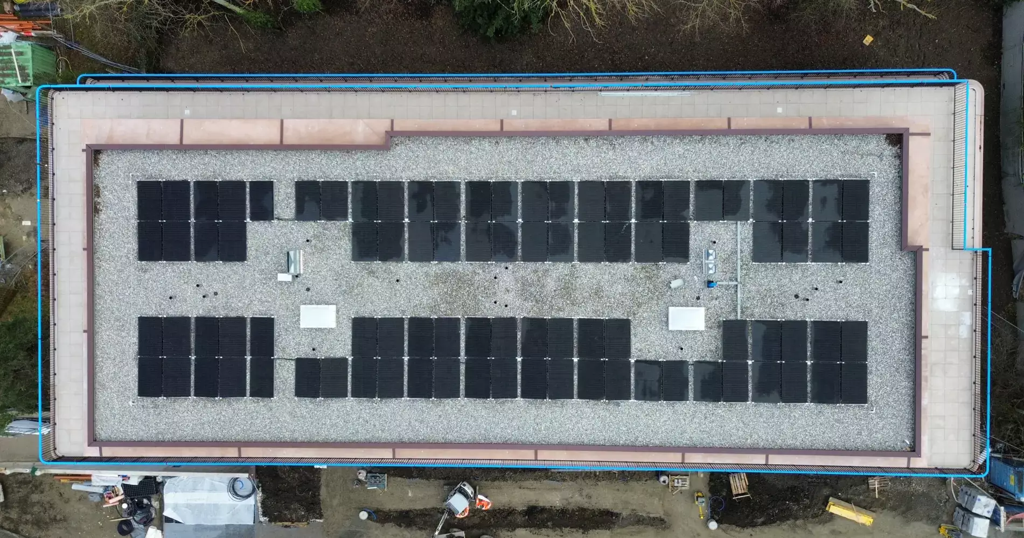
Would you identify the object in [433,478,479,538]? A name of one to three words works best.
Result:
work vehicle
